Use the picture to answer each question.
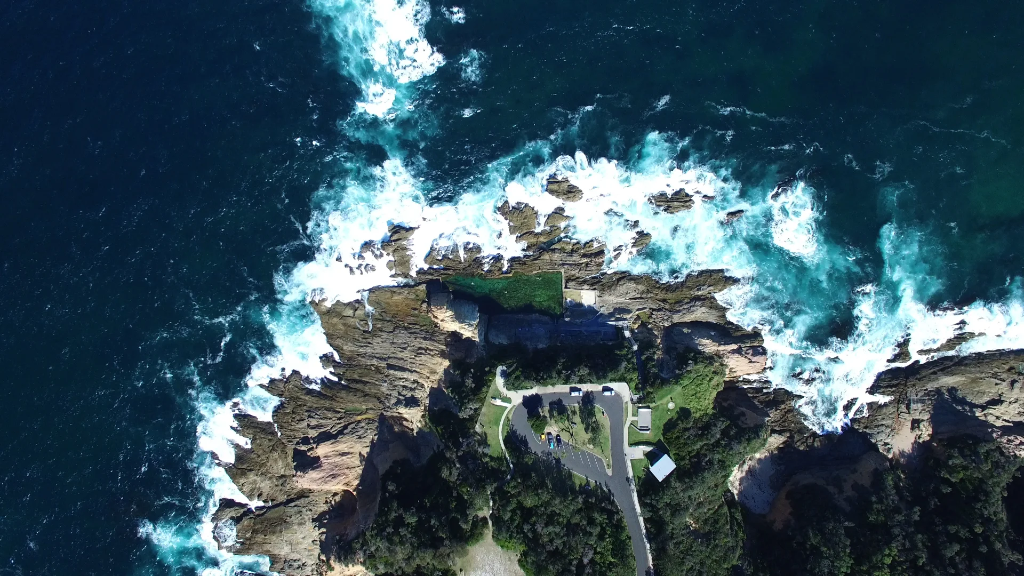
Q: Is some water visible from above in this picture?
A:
Yes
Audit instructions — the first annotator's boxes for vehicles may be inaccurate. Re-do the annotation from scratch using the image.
[603,390,615,396]
[540,433,546,442]
[570,391,583,396]
[547,433,554,448]
[556,435,563,448]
